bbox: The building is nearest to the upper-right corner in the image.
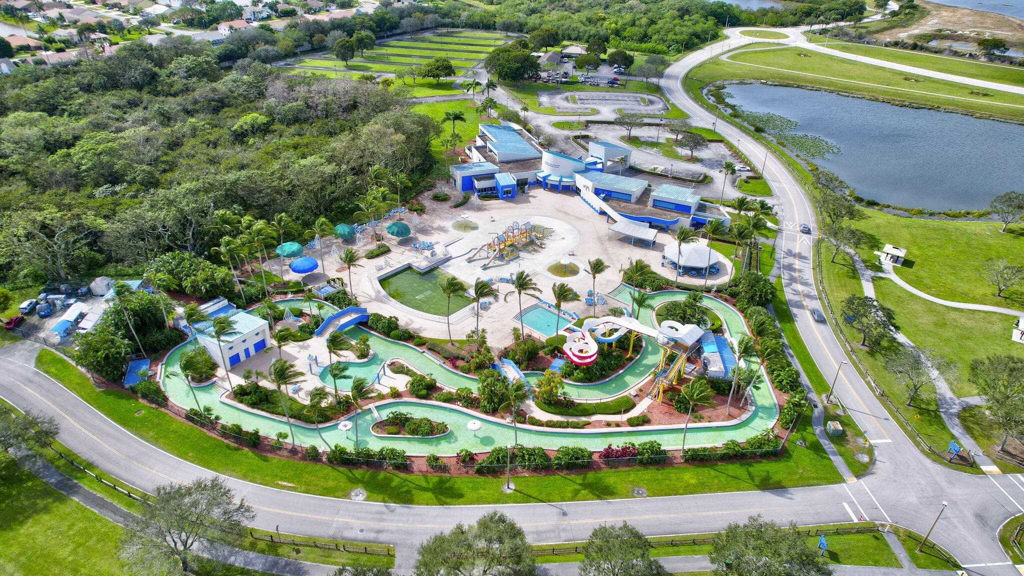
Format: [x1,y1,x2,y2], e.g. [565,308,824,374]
[881,243,907,266]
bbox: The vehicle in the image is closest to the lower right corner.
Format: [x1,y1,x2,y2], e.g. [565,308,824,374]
[810,304,828,320]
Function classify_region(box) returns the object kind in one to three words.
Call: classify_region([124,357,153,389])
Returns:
shed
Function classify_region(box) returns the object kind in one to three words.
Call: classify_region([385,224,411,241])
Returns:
umbrella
